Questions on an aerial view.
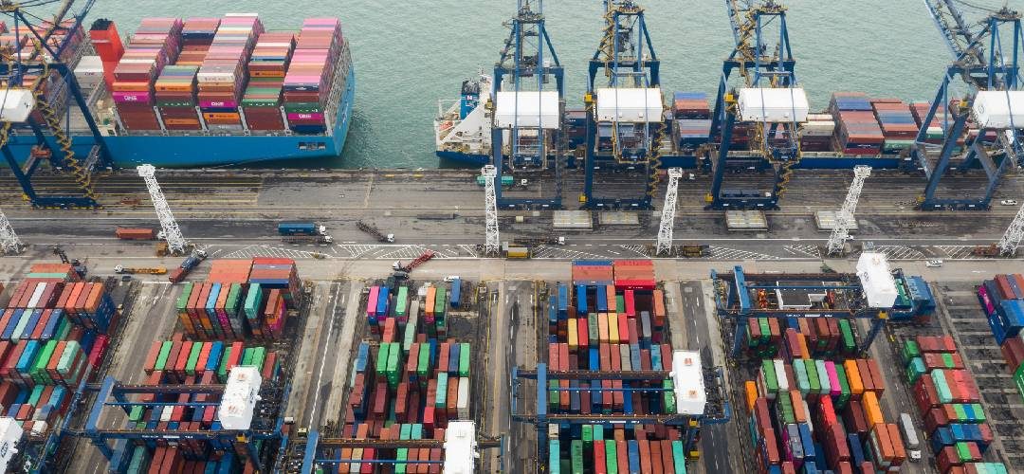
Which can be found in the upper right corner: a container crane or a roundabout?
container crane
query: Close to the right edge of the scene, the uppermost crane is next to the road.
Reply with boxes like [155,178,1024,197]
[905,0,1024,207]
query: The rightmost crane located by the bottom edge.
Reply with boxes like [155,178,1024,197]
[511,355,732,464]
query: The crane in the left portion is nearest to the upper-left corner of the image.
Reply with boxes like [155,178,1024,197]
[0,0,119,207]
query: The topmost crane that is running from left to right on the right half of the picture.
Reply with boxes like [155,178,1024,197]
[706,258,913,358]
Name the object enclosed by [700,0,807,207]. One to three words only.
container crane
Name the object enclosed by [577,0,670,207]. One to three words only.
container crane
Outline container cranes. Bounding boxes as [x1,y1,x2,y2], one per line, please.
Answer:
[0,0,119,207]
[700,0,807,207]
[905,0,1024,207]
[278,423,511,474]
[62,370,299,474]
[511,355,732,464]
[577,0,670,207]
[484,0,573,207]
[706,258,913,358]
